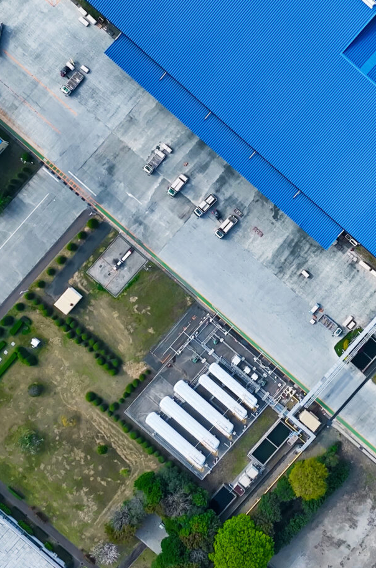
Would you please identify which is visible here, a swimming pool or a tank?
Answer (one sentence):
Of the two, only a tank appears.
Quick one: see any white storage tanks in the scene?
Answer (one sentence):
Yes, the image includes a white storage tank.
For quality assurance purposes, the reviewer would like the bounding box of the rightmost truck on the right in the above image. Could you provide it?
[314,309,347,338]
